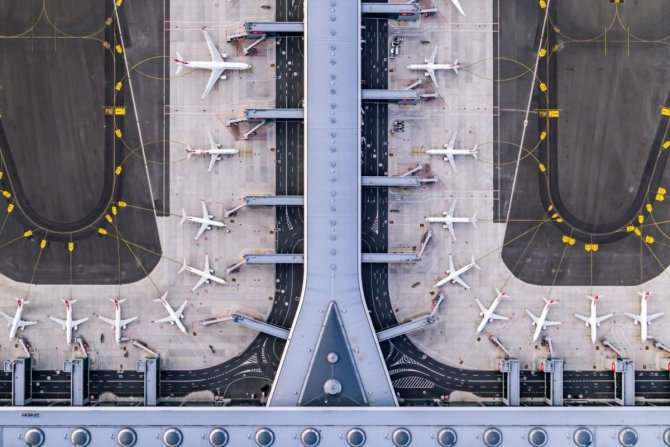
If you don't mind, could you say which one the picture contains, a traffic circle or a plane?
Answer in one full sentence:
Visible in the photo is a plane.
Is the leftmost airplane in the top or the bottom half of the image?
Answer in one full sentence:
The bottom half of the photo is where the leftmost airplane is.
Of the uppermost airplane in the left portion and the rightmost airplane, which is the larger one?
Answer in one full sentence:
The uppermost airplane in the left portion covers a greater area than the rightmost airplane.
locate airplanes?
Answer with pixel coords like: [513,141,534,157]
[181,253,226,293]
[45,300,88,344]
[426,198,480,241]
[185,130,239,171]
[182,200,227,241]
[525,298,566,342]
[426,130,480,173]
[574,298,617,344]
[625,293,668,342]
[476,291,512,334]
[408,45,462,86]
[434,254,479,291]
[0,299,37,340]
[172,27,251,101]
[96,301,137,344]
[152,295,188,333]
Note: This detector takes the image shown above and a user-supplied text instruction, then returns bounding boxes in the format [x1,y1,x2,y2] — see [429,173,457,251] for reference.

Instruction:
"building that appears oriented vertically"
[268,0,397,407]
